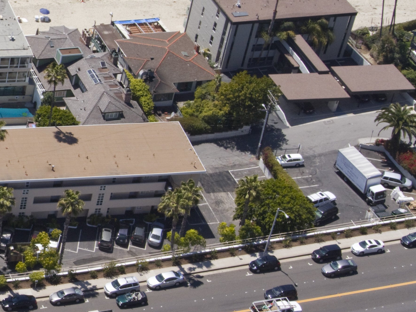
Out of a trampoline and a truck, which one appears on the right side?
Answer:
truck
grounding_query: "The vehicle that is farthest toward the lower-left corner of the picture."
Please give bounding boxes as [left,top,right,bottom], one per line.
[0,294,38,311]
